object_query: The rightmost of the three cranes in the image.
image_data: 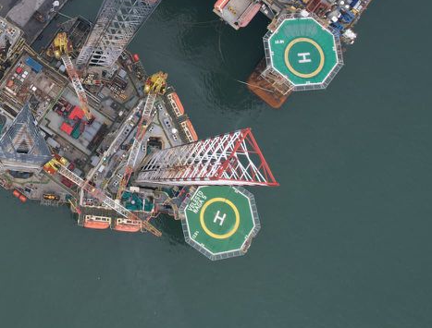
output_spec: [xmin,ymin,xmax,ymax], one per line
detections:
[114,68,166,208]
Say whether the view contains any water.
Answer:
Yes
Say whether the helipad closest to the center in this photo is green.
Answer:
Yes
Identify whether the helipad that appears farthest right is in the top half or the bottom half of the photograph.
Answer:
top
